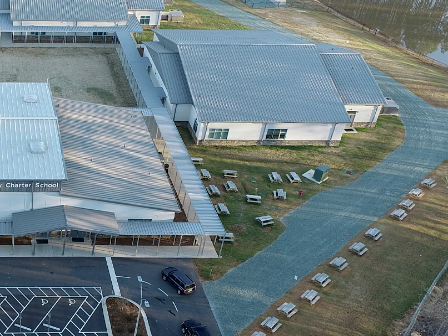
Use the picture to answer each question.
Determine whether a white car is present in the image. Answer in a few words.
No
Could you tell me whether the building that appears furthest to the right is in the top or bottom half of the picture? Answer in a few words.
top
